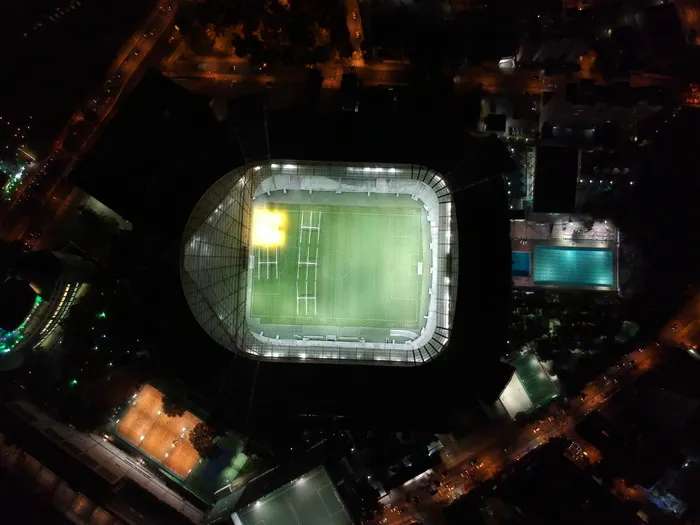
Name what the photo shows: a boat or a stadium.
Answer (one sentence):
The image shows a stadium.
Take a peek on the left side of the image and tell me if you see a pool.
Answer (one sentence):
No, the scene shows no pool on the left side of the image.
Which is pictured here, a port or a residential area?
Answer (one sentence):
This looks like a residential area.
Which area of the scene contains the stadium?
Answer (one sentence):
The stadium appears toward the center of the photo.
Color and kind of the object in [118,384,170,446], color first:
orange tennis court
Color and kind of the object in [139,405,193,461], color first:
orange tennis court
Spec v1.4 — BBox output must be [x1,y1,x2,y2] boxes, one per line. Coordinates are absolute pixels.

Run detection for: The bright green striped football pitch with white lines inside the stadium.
[248,202,422,327]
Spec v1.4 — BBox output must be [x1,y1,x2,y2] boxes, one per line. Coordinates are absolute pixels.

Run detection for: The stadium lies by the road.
[142,107,516,411]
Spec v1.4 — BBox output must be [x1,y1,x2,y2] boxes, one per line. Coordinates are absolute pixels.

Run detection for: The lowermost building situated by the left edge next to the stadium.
[5,396,206,524]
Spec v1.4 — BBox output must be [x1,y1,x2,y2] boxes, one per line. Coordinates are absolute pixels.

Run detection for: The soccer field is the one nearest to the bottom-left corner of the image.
[237,463,353,525]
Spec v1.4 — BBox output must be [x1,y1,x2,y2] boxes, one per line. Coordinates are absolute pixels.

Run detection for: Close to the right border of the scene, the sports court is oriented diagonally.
[642,484,686,518]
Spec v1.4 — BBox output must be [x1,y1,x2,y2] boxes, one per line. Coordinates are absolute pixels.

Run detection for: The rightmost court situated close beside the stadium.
[516,354,560,407]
